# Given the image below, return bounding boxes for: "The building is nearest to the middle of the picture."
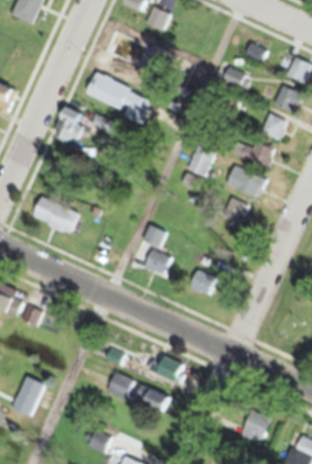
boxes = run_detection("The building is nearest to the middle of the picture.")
[144,224,169,247]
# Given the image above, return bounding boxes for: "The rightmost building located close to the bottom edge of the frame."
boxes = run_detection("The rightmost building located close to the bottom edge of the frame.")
[288,436,312,464]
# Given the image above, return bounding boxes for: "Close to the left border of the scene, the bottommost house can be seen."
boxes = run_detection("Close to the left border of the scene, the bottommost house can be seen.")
[16,377,45,416]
